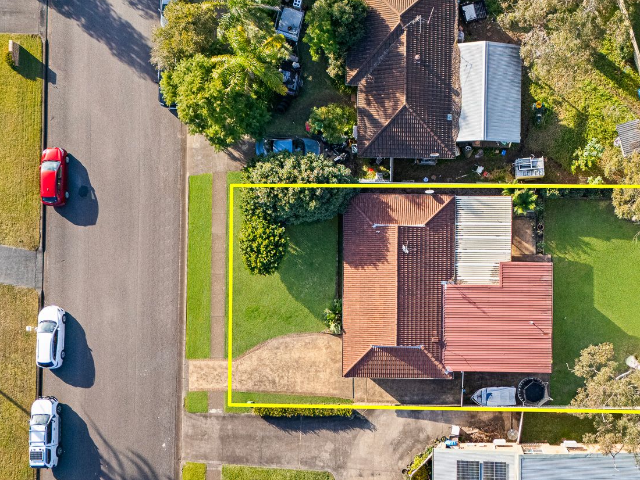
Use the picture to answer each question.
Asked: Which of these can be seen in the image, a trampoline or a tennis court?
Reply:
trampoline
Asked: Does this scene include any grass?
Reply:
Yes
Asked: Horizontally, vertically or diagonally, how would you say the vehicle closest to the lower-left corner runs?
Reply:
vertically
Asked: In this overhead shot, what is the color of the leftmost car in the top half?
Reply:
red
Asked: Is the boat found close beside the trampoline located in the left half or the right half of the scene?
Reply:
right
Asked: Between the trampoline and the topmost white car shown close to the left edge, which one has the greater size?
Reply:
the car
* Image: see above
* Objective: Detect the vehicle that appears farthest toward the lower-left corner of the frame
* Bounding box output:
[23,396,63,472]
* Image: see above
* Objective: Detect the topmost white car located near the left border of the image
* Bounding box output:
[29,308,66,370]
